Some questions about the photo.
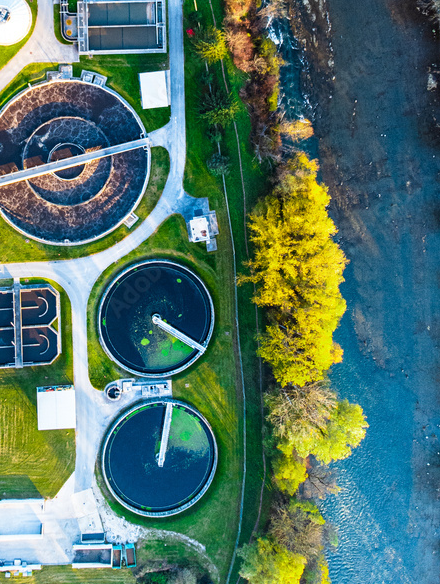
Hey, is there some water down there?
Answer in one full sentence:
Yes, there is water in the image.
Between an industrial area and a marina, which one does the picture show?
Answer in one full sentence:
This looks like an industrial area.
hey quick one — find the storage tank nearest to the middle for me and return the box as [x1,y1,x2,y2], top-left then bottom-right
[100,260,214,375]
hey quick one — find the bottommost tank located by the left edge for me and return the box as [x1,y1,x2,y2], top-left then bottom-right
[0,77,151,247]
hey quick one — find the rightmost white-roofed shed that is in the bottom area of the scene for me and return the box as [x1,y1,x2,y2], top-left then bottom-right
[37,385,75,430]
